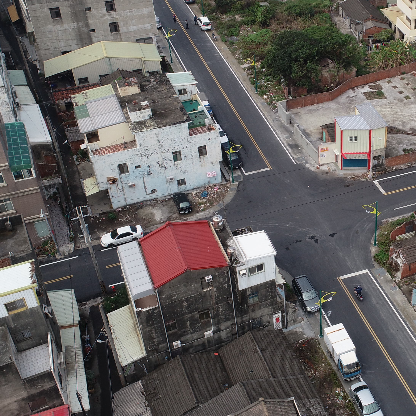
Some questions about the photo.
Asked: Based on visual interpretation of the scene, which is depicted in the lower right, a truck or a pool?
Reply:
truck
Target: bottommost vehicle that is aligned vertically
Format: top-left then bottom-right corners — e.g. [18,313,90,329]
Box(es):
[321,309,359,379]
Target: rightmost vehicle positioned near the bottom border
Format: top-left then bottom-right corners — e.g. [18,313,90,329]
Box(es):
[350,379,383,416]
